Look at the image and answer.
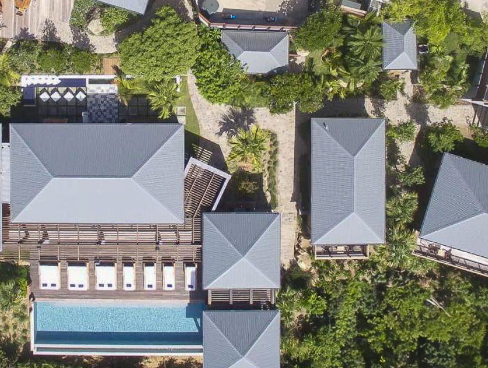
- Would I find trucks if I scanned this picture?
No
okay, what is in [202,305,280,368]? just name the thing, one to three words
house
